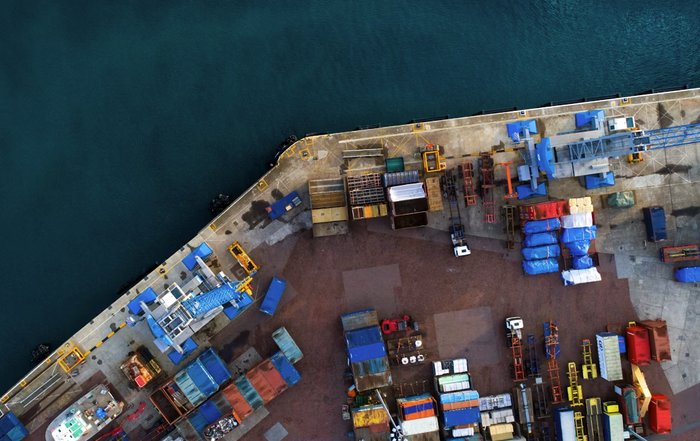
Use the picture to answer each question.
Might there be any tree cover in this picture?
No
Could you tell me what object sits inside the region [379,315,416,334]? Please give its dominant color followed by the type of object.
red vehicle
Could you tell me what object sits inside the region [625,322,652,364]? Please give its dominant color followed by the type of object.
red shipping container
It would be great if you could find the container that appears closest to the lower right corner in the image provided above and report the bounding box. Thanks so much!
[647,389,673,436]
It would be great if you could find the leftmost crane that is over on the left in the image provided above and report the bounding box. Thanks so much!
[126,241,258,366]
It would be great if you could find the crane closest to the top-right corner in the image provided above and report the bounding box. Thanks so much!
[505,110,700,200]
